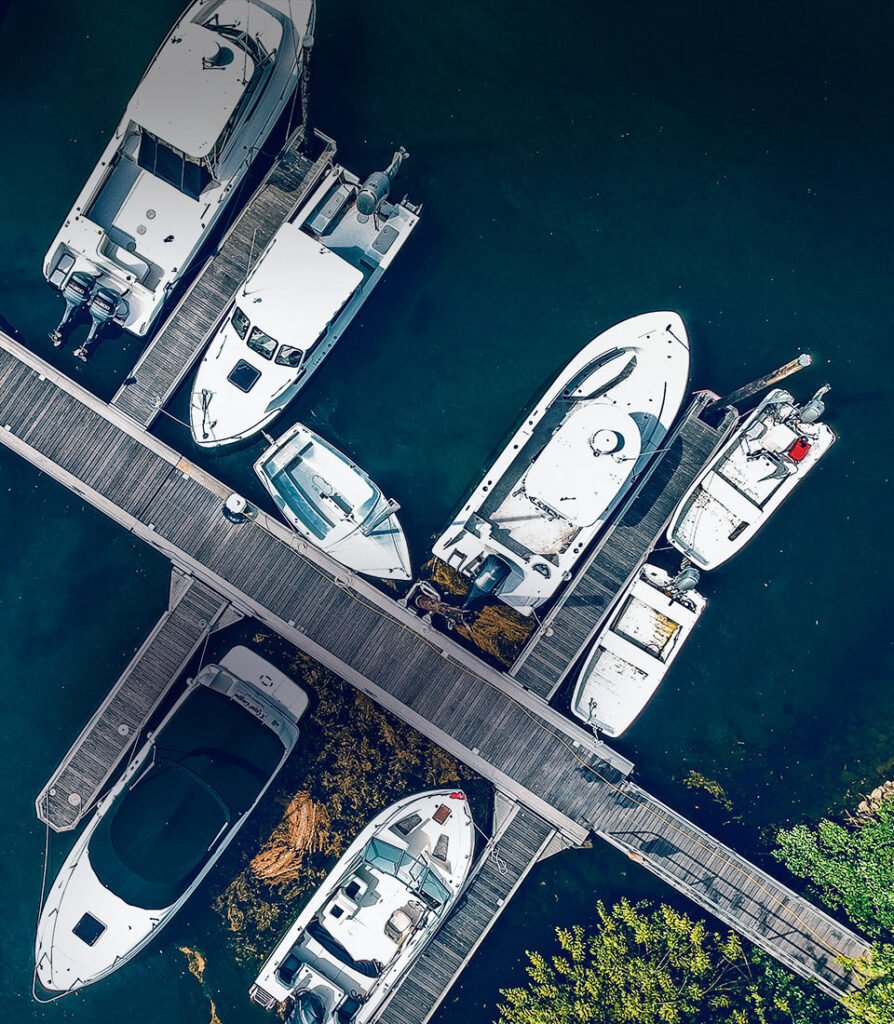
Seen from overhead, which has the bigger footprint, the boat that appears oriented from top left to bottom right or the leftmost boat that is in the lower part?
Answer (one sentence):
The leftmost boat that is in the lower part is bigger than the boat that appears oriented from top left to bottom right.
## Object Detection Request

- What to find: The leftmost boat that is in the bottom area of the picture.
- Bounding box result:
[32,645,308,1004]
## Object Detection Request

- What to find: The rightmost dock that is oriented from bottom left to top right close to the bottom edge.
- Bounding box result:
[374,785,577,1024]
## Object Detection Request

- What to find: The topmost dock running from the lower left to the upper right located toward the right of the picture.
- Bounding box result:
[508,387,746,702]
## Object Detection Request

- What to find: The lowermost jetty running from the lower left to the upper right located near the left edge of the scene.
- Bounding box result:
[37,562,249,829]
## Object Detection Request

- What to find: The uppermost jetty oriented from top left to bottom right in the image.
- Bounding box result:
[0,331,635,833]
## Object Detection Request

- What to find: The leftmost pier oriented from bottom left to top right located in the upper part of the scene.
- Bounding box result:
[110,122,341,431]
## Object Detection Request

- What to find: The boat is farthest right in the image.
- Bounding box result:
[663,381,838,571]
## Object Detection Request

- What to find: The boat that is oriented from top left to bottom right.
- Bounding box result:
[253,422,412,581]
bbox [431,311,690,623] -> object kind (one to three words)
boat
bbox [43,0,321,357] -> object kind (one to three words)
boat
